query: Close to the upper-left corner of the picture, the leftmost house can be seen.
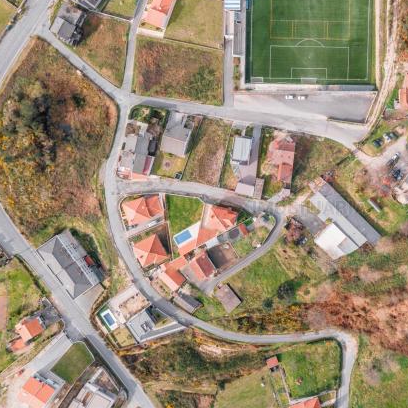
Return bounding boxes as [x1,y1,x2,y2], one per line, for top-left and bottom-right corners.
[55,5,85,43]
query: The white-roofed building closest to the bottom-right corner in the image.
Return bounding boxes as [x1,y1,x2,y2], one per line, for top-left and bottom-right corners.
[314,223,359,259]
